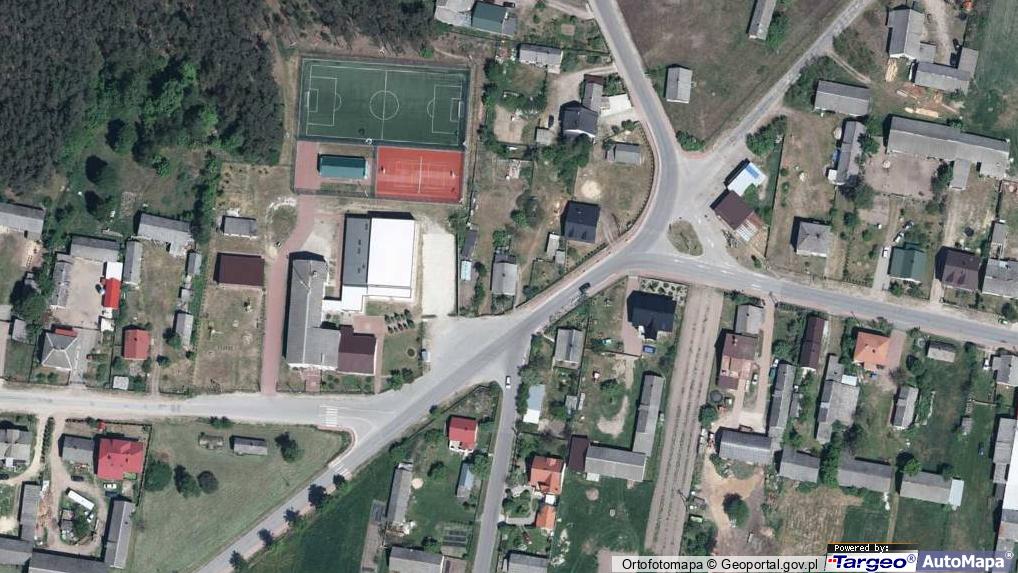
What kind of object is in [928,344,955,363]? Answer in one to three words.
shed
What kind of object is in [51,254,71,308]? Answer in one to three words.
barn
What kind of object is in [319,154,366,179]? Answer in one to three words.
building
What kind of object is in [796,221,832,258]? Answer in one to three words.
house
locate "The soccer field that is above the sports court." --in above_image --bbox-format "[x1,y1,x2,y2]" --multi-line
[297,58,470,146]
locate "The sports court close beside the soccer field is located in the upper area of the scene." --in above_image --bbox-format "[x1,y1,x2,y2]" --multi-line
[376,147,464,202]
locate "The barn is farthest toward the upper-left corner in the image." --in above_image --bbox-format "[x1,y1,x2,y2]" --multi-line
[0,204,44,241]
